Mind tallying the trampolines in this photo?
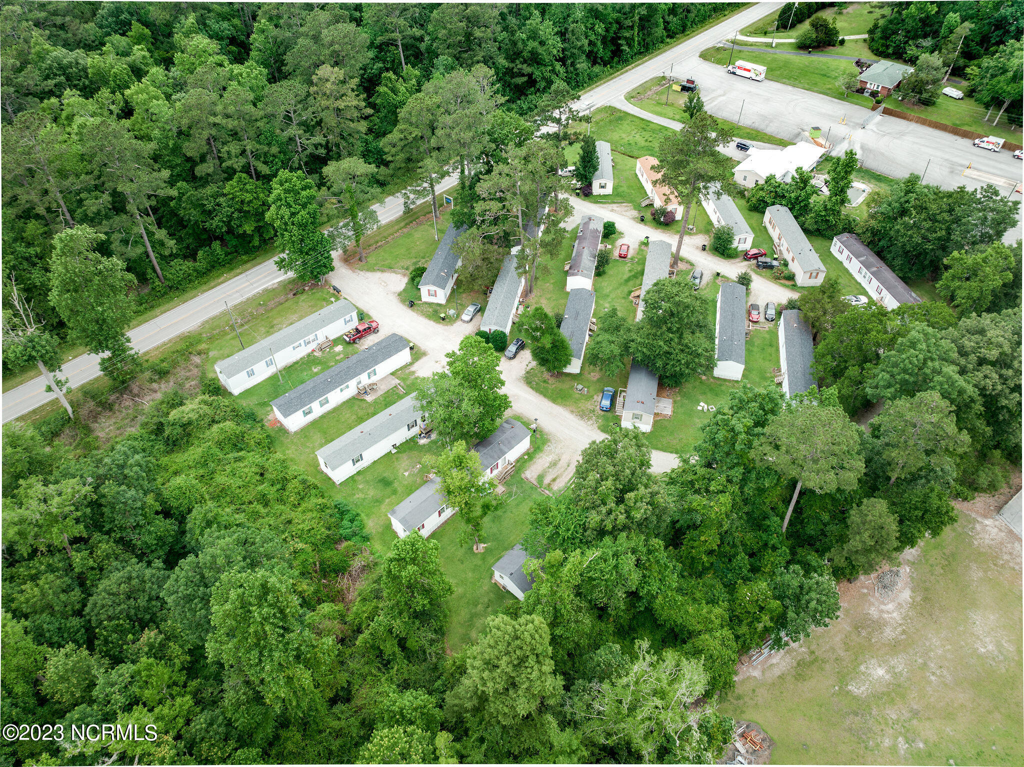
none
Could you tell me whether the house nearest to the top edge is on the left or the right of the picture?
right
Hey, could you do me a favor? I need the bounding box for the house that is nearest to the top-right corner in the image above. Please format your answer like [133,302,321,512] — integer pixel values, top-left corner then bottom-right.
[857,61,912,96]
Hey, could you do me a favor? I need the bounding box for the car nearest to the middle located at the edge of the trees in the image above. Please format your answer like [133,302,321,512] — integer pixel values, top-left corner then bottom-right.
[505,339,524,358]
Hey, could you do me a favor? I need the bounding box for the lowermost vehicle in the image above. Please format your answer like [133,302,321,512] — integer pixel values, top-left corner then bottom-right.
[601,386,616,409]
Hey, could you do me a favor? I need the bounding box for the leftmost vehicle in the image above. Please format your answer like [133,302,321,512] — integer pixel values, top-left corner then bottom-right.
[344,323,380,344]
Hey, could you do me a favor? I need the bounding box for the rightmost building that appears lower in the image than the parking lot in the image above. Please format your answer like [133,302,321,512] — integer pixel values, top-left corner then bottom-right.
[830,233,920,319]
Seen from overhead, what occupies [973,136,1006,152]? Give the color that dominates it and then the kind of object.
white vehicle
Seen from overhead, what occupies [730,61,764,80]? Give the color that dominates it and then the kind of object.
white vehicle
